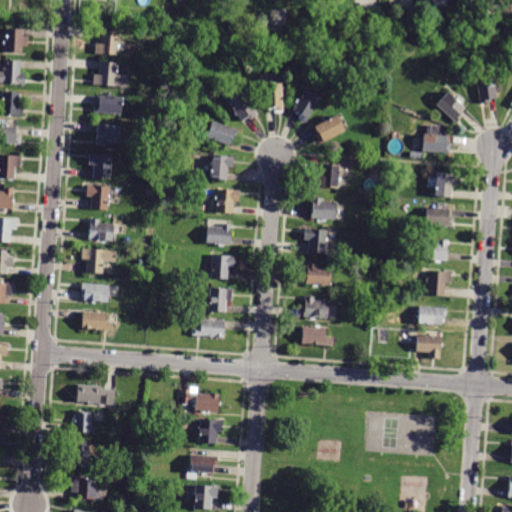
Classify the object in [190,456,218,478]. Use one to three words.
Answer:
house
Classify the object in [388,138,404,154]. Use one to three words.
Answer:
swimming pool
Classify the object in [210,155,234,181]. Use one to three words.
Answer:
house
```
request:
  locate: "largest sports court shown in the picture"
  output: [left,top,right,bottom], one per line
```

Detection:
[365,411,436,456]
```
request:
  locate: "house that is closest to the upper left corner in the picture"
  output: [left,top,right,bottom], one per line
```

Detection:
[2,28,28,53]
